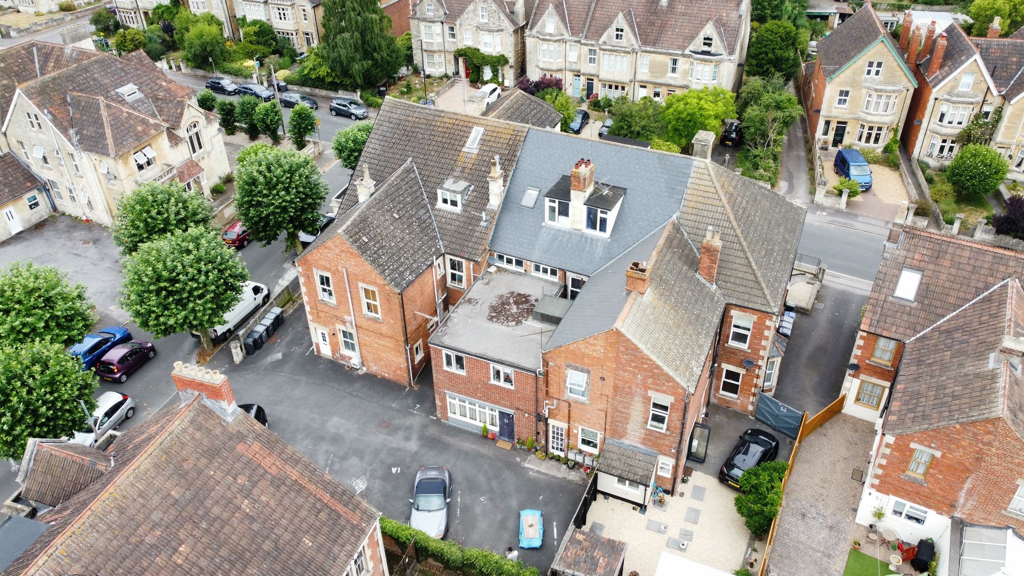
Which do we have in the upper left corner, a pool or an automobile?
automobile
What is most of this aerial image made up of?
buildings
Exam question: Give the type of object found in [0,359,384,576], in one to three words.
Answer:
house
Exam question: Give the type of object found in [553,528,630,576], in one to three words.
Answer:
shed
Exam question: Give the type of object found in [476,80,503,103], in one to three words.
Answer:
car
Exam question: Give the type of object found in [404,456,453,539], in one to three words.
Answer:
car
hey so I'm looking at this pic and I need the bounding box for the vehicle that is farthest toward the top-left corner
[204,75,239,95]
